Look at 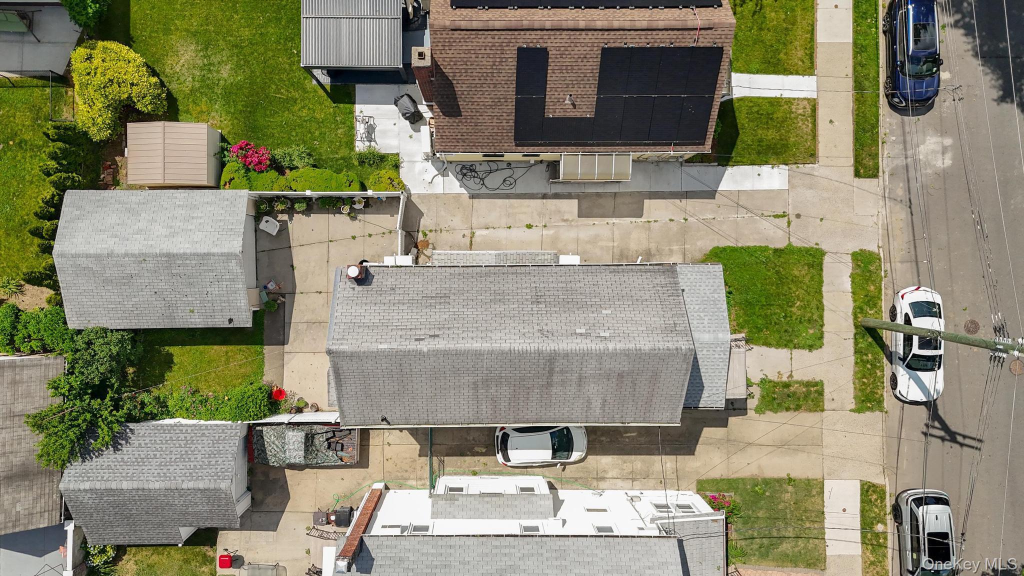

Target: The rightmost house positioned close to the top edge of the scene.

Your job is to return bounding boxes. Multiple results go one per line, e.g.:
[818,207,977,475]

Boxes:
[411,0,736,190]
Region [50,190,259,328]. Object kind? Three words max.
building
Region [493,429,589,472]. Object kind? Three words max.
car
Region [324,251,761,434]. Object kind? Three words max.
house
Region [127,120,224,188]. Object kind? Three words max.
shed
